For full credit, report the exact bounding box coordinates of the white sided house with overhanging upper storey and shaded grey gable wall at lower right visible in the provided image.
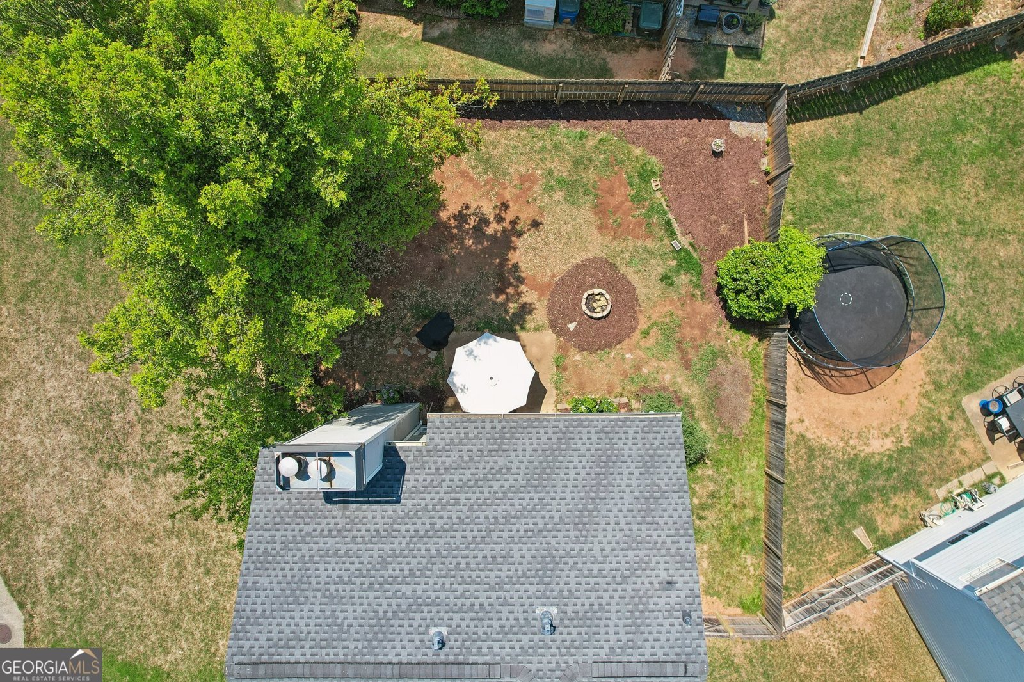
[877,475,1024,682]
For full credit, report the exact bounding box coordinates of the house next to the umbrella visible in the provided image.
[226,406,707,682]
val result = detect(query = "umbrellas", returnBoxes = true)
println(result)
[446,332,537,409]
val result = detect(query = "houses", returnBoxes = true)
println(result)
[226,406,707,682]
[877,475,1024,682]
